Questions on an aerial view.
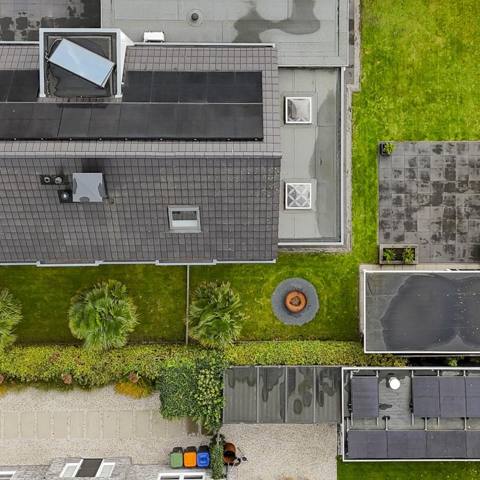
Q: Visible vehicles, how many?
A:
0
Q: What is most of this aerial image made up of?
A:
buildings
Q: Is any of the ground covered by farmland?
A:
No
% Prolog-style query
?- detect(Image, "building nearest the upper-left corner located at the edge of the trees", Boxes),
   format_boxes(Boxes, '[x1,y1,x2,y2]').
[0,0,349,268]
